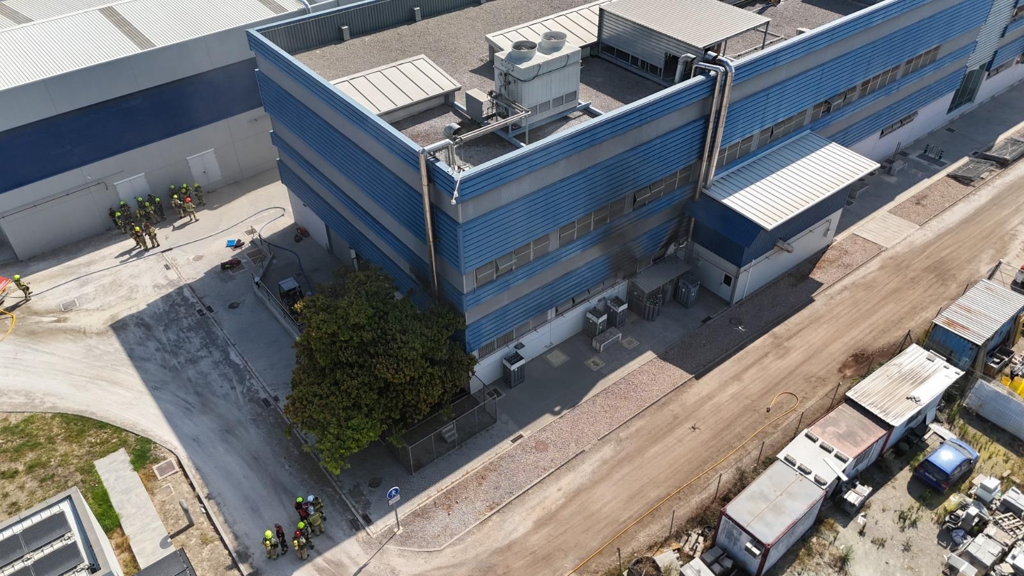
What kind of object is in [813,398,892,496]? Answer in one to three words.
building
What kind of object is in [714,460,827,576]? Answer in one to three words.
building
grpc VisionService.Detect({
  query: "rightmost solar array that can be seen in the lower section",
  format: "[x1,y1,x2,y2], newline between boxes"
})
[134,549,195,576]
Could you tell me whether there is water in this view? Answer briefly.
No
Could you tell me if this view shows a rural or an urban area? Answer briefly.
urban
